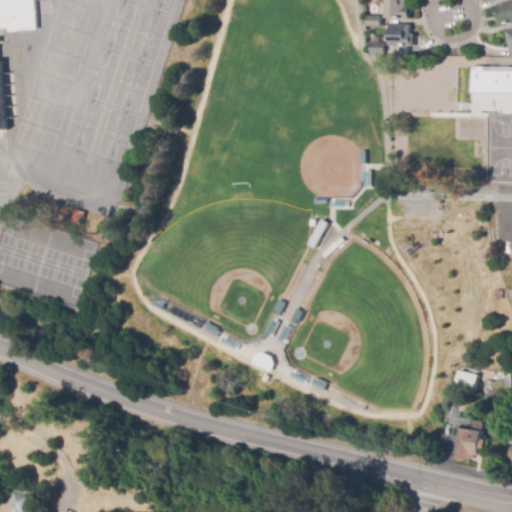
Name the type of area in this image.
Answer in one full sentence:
This looks like a sports ground.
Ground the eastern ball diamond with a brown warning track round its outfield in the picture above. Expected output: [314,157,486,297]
[286,236,425,412]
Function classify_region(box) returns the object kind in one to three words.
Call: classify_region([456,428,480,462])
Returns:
house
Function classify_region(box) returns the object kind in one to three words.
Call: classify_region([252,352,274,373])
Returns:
building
